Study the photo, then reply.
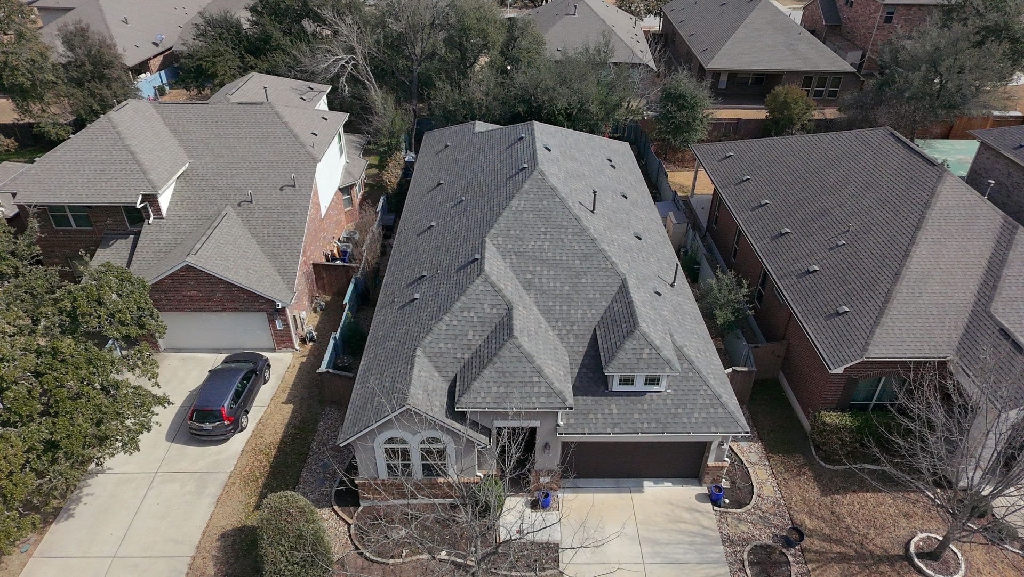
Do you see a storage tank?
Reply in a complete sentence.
No, this view has no storage tank in it.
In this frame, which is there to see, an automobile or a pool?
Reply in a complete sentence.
Looking from above, you can make out an automobile.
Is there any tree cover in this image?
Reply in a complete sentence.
Yes, the picture does contain tree cover.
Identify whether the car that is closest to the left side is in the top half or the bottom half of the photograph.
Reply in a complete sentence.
The car that is closest to the left side is in the bottom half of the image.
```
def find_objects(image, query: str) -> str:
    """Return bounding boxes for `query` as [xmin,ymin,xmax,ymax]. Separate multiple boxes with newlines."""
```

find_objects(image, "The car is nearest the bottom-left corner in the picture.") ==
[181,355,268,445]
